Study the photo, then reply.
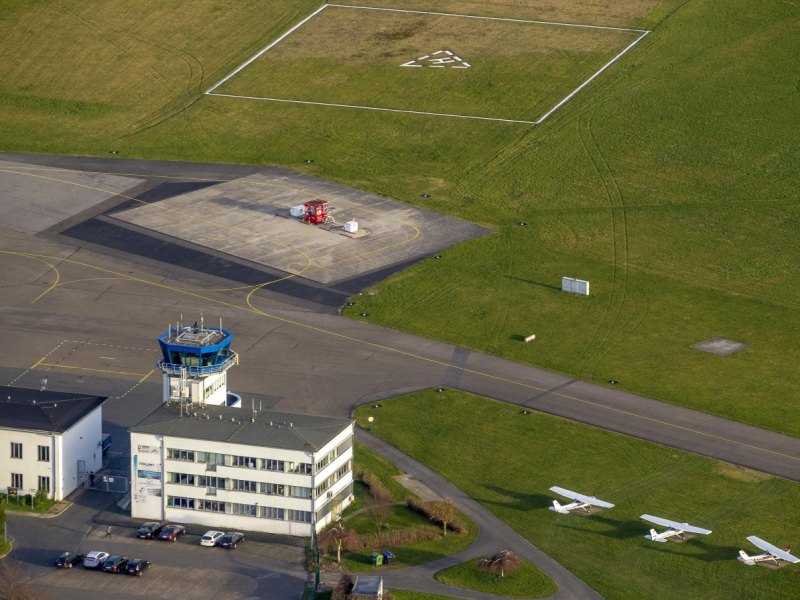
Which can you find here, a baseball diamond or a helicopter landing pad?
helicopter landing pad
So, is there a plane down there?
Yes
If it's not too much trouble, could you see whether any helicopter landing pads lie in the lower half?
No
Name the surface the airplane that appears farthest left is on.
grass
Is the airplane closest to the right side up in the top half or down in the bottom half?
bottom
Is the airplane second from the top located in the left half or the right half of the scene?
right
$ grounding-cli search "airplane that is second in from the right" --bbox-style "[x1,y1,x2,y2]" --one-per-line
[637,509,714,542]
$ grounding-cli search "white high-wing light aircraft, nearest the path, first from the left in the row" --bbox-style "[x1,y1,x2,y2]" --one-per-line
[541,482,617,516]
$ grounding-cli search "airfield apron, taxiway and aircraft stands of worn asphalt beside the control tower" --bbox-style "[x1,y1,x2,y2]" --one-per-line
[0,153,800,534]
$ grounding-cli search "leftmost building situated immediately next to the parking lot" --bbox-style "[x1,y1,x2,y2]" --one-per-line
[0,388,112,500]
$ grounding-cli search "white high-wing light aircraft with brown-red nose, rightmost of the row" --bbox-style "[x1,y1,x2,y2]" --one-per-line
[729,533,800,569]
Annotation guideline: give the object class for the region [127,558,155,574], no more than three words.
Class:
car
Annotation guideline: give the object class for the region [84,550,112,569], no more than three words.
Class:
car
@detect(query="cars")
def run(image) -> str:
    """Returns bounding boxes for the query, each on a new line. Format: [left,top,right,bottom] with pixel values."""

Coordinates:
[222,530,250,548]
[127,558,155,574]
[138,520,166,539]
[84,550,112,569]
[201,528,229,546]
[161,524,189,541]
[104,553,132,572]
[57,551,86,568]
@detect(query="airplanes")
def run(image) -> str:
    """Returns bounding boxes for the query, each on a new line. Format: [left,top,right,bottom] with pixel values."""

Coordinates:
[729,533,800,569]
[637,509,714,542]
[541,482,617,516]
